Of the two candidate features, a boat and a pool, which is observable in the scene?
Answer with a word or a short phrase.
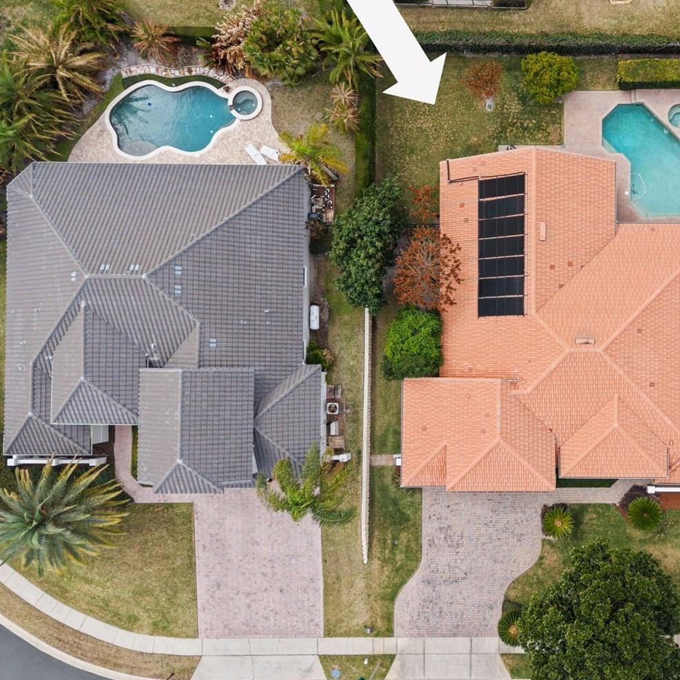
pool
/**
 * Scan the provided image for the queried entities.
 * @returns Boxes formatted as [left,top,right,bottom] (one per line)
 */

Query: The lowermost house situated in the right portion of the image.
[398,146,680,494]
